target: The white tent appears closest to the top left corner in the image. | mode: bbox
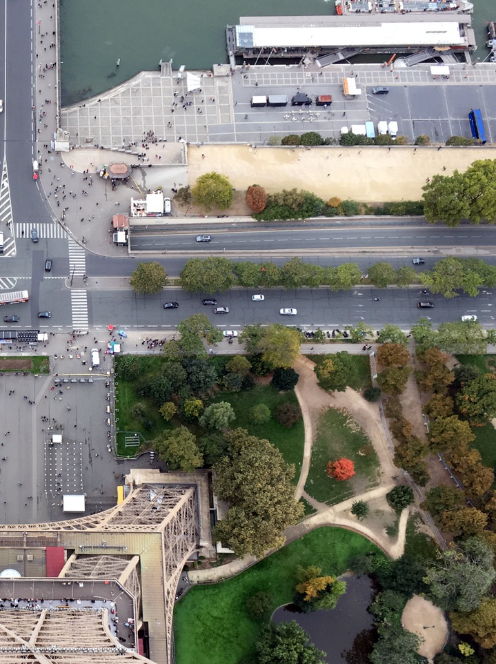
[146,193,165,218]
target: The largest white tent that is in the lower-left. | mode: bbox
[64,495,85,511]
